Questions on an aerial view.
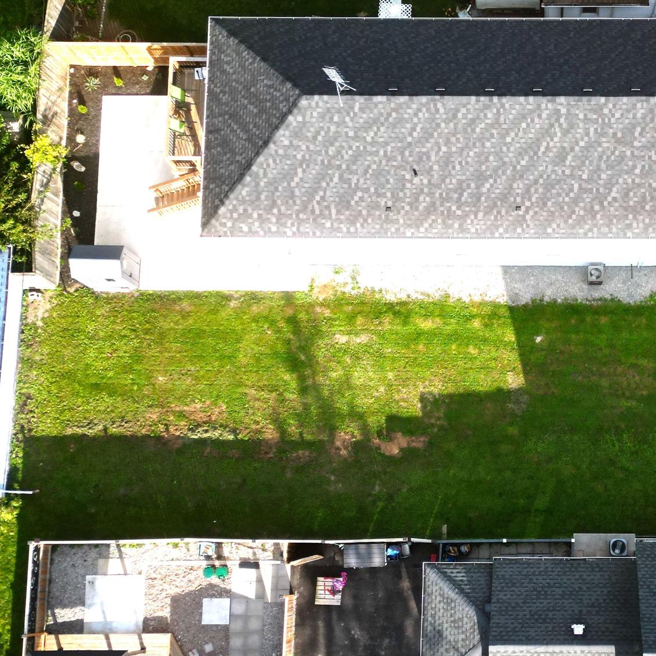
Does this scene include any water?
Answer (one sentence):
No, the scene doesn't show any water.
